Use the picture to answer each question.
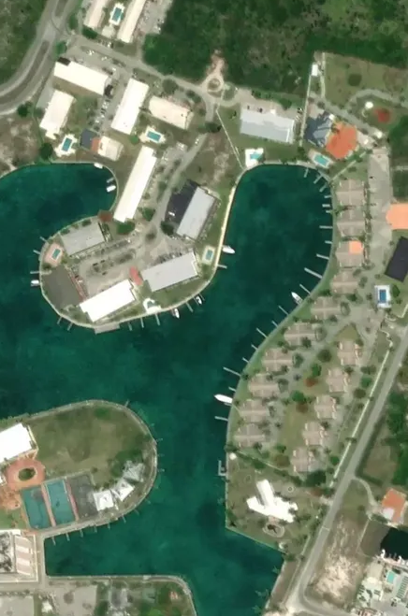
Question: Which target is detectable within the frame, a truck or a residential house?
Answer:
residential house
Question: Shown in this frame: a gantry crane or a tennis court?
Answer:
tennis court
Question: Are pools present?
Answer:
Yes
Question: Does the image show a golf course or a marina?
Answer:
marina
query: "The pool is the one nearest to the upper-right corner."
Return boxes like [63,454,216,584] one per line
[309,150,336,169]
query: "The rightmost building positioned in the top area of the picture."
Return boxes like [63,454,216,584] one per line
[386,203,408,229]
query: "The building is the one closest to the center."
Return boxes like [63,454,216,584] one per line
[143,251,199,293]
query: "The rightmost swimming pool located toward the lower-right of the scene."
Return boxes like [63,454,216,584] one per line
[384,569,399,586]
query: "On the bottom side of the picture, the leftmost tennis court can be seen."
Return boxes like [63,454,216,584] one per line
[22,486,50,528]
